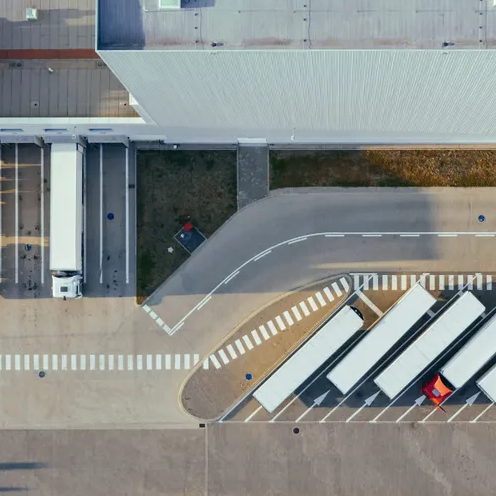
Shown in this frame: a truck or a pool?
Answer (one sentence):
It is a truck that can be seen here.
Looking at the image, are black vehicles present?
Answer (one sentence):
No, the picture doesn't show any black vehicle.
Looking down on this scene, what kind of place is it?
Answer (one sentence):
This image shows an industrial area.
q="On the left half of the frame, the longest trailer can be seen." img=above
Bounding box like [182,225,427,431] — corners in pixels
[52,143,83,273]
